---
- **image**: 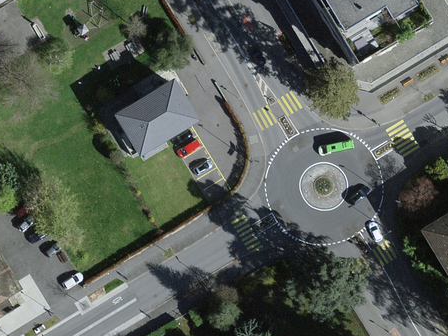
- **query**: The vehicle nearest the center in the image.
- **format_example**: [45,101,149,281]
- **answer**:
[193,158,214,174]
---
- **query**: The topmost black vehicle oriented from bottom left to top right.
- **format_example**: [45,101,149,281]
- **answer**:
[173,129,194,145]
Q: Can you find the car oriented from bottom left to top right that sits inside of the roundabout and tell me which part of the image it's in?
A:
right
